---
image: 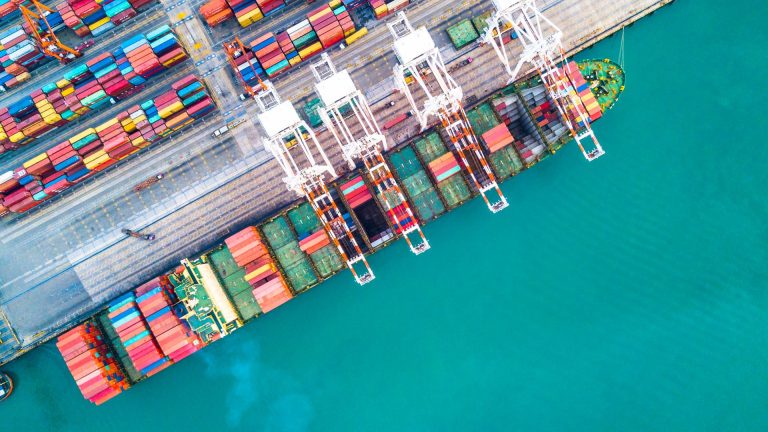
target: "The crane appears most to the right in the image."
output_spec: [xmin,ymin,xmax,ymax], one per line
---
[475,0,604,164]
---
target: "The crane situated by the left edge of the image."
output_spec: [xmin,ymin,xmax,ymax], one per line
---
[16,0,88,63]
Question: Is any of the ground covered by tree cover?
No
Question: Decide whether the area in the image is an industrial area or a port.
port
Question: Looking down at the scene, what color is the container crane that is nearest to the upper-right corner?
white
